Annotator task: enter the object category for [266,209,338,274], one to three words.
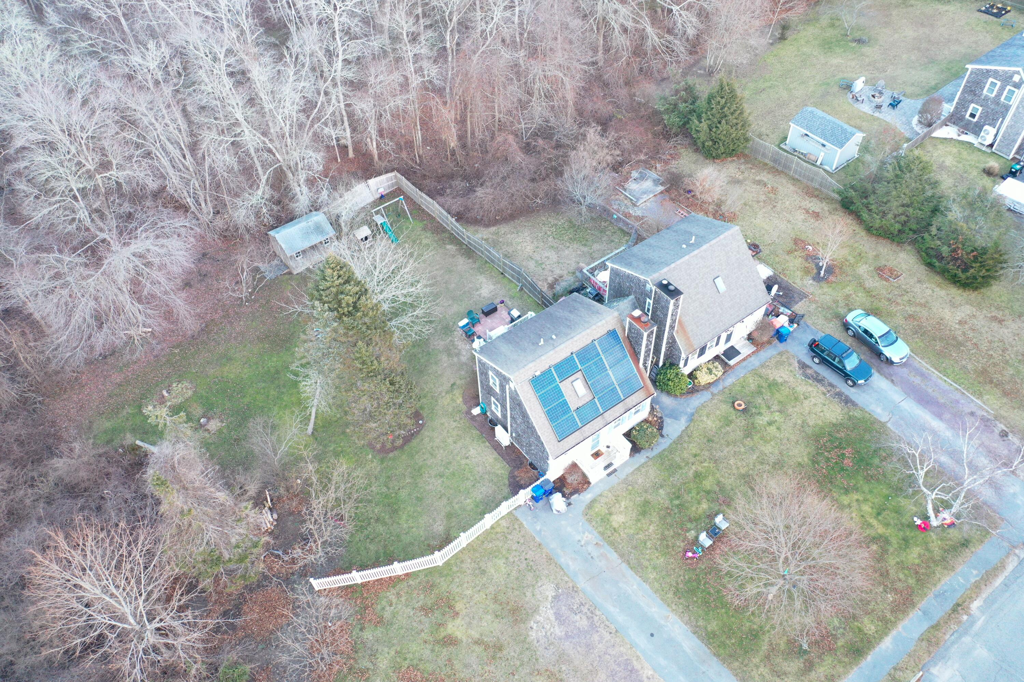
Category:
shed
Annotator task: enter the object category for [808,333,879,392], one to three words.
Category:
car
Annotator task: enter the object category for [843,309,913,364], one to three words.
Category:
car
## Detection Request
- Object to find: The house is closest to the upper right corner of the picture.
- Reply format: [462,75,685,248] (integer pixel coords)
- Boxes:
[927,35,1024,163]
